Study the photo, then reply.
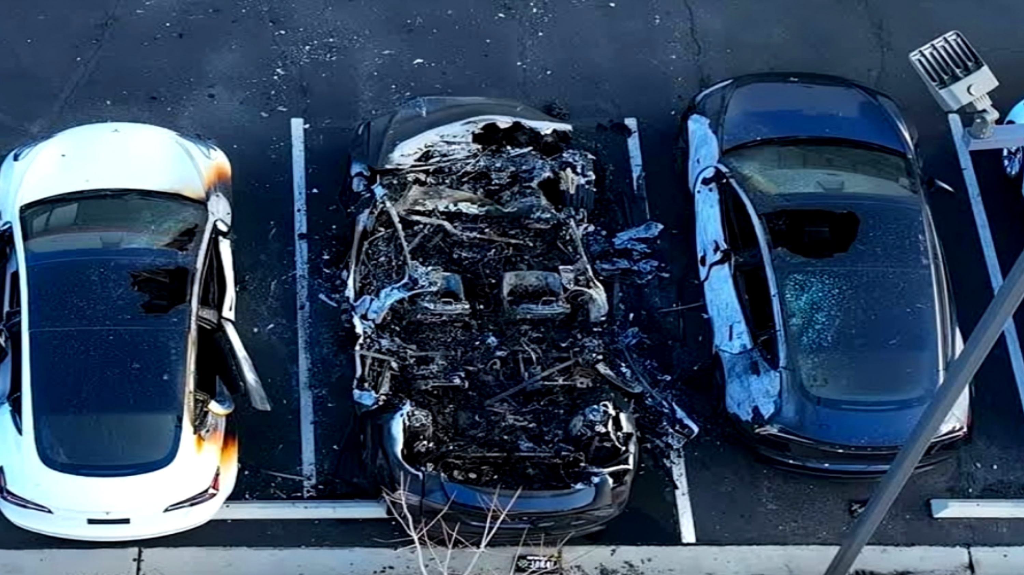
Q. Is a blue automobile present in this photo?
Yes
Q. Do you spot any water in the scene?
No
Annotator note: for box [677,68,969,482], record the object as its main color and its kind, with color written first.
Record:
blue car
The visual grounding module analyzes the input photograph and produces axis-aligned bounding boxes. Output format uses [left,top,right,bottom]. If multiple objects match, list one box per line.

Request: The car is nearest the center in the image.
[346,93,637,536]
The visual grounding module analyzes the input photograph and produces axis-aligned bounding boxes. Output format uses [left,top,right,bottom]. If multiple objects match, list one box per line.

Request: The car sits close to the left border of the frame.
[0,121,274,547]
